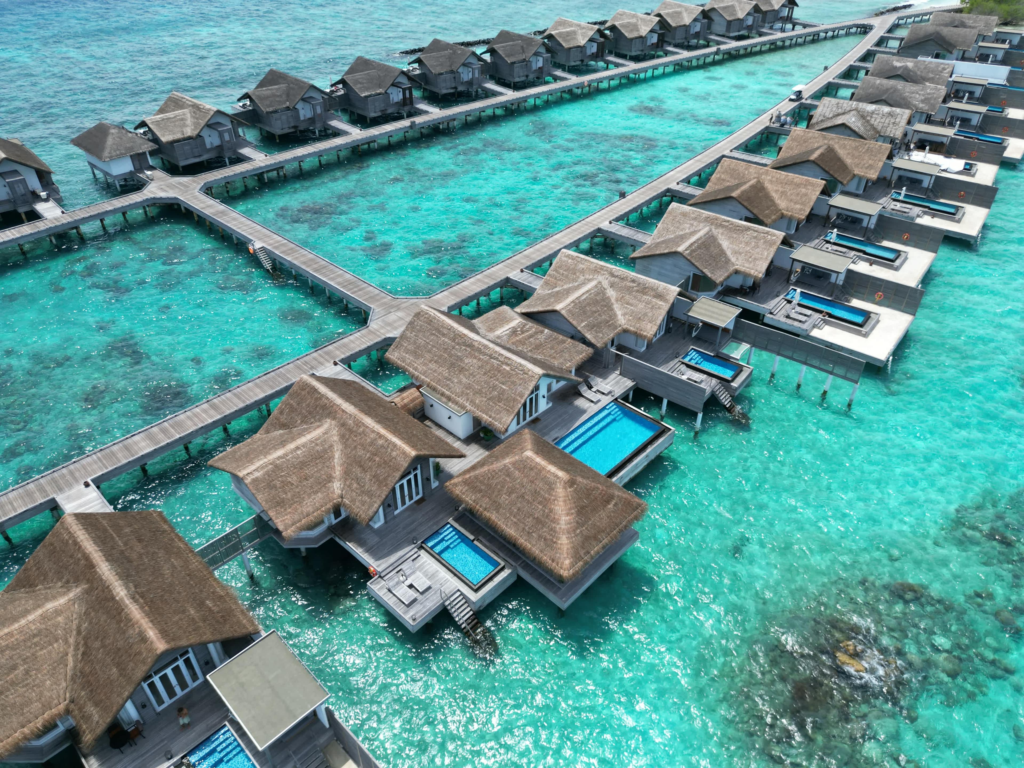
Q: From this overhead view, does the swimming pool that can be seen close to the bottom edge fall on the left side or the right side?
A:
left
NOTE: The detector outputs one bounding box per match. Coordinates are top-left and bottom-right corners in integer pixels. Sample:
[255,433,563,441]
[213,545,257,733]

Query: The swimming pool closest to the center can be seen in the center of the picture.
[551,398,675,488]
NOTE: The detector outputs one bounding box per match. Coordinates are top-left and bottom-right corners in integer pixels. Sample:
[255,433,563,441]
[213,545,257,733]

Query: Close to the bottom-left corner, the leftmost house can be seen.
[0,507,260,758]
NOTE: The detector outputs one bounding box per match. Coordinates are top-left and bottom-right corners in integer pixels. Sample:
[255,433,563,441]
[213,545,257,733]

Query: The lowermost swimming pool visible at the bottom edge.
[174,721,265,768]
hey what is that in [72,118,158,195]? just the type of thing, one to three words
shed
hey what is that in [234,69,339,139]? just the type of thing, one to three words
house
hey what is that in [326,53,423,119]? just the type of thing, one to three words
house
